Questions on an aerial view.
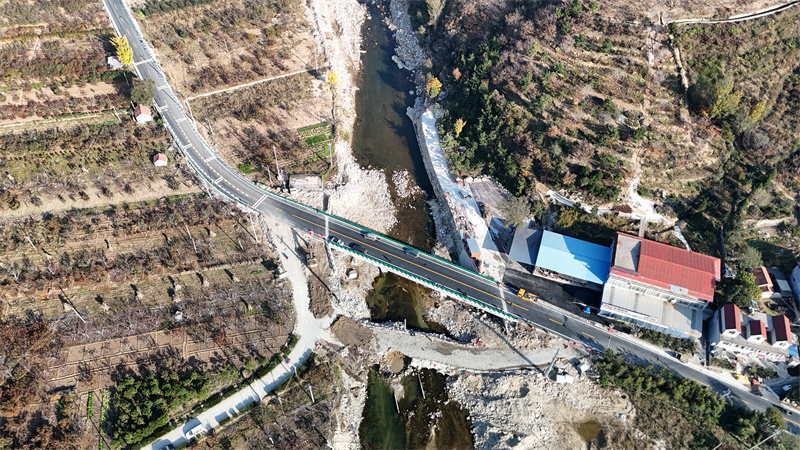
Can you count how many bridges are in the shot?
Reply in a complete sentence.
The photo contains exactly 1 bridge.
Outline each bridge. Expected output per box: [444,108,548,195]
[313,215,513,316]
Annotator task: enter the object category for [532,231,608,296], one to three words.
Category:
shed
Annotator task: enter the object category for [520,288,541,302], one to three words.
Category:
vehicle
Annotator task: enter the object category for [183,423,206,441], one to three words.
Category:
vehicle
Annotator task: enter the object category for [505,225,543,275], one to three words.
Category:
shed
